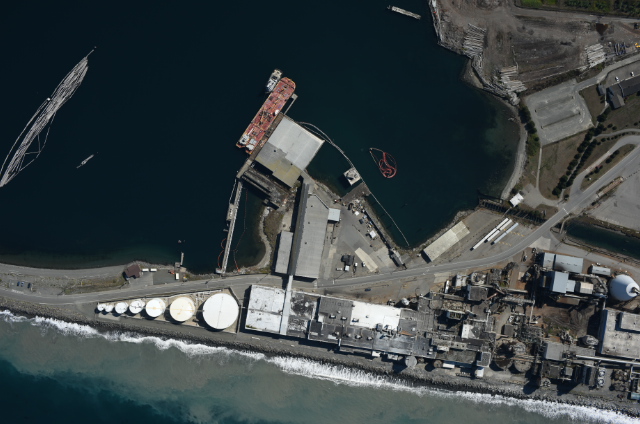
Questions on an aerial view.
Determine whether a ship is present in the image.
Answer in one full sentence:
Yes, the image includes a ship.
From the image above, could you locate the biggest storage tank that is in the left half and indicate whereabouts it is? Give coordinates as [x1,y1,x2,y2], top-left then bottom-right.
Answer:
[202,291,240,330]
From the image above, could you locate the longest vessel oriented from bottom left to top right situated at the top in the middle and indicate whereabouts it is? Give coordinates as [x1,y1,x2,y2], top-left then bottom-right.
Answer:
[236,76,294,154]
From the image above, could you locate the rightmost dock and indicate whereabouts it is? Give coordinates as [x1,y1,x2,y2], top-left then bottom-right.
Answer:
[341,183,371,206]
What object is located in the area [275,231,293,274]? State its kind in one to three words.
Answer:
shed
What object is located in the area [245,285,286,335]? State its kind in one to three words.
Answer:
building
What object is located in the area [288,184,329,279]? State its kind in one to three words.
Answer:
building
